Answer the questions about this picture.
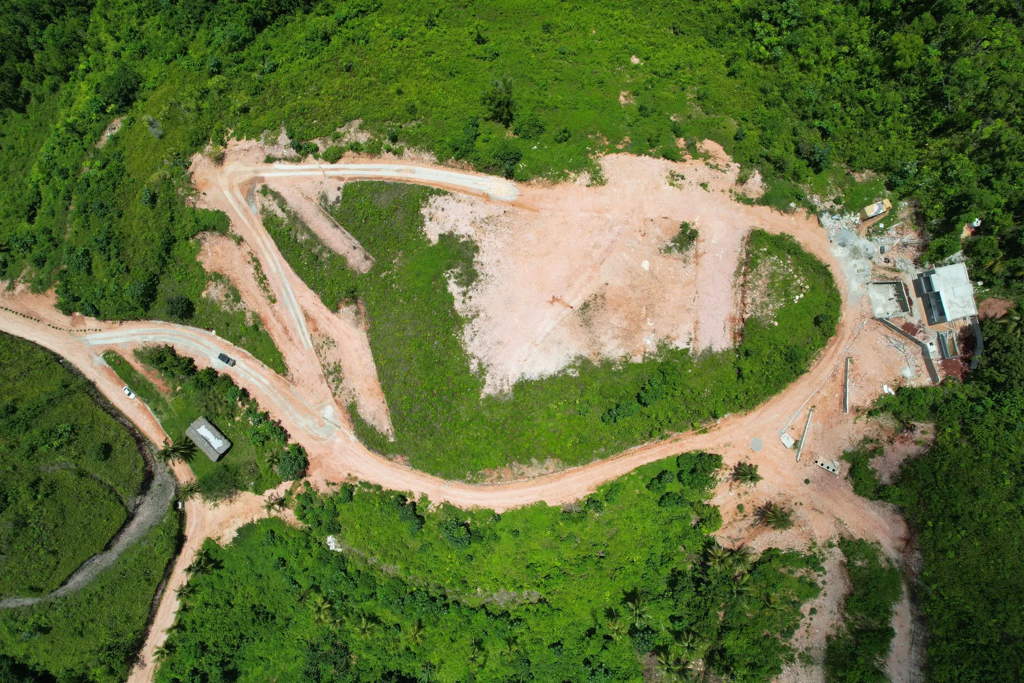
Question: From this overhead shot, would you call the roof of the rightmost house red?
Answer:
No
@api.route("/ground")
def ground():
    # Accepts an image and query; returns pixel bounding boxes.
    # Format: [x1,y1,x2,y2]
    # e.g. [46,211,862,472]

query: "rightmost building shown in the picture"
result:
[912,263,978,323]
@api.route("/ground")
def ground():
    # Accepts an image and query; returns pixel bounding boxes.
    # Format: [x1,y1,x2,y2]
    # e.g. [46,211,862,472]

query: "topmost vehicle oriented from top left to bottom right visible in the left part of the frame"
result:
[219,352,237,366]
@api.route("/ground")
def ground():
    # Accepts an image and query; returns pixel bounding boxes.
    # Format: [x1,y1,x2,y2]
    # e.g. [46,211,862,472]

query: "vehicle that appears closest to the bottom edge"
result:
[122,385,137,399]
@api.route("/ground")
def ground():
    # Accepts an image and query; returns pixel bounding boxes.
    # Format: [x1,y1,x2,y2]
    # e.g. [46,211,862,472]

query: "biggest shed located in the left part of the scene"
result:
[188,416,232,461]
